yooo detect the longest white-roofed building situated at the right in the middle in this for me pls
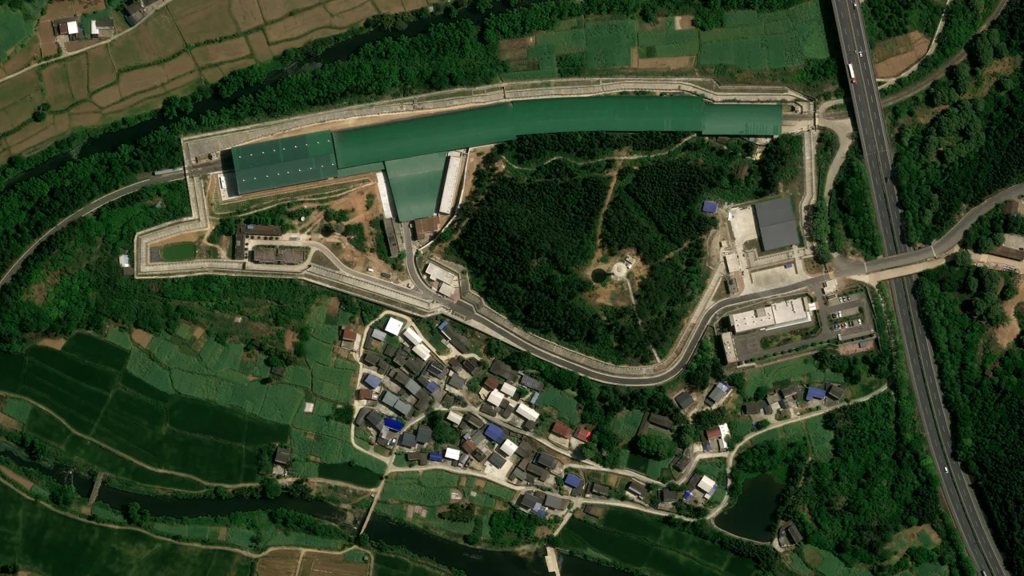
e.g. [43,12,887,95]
[733,297,812,333]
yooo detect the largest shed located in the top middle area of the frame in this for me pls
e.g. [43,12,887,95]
[333,96,702,169]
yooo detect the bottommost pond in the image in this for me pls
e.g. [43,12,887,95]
[716,475,783,540]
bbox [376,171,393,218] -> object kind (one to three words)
building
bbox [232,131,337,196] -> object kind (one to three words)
shed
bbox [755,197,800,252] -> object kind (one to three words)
building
